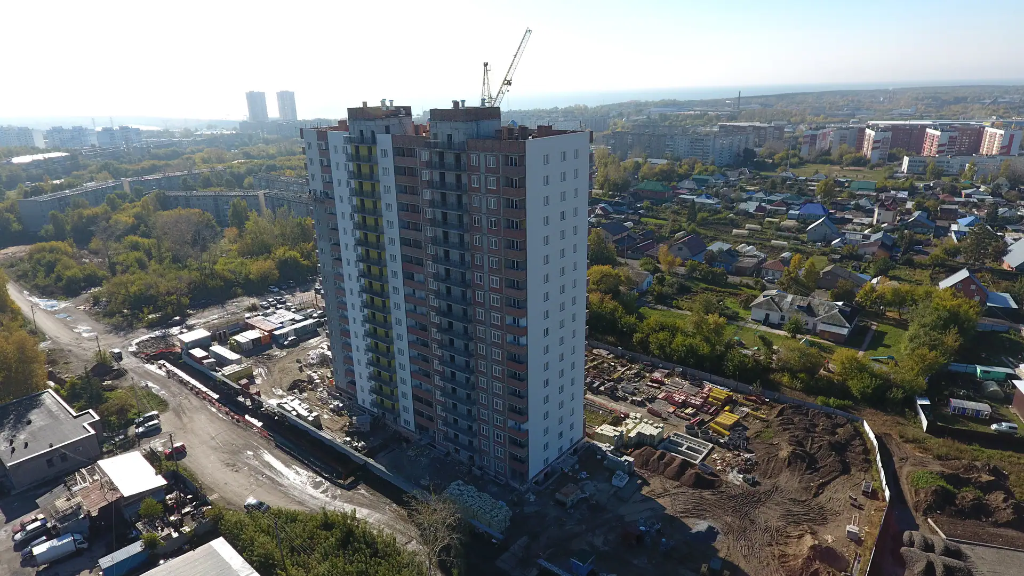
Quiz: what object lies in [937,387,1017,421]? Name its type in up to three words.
greenhouse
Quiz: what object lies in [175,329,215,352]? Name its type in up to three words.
building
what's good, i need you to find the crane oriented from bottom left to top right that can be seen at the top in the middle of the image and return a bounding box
[478,29,532,106]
